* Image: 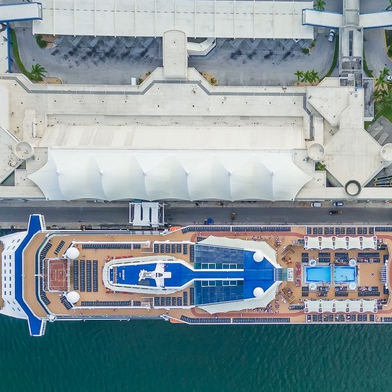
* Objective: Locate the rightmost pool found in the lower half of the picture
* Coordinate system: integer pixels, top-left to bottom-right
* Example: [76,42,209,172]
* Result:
[334,266,356,282]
